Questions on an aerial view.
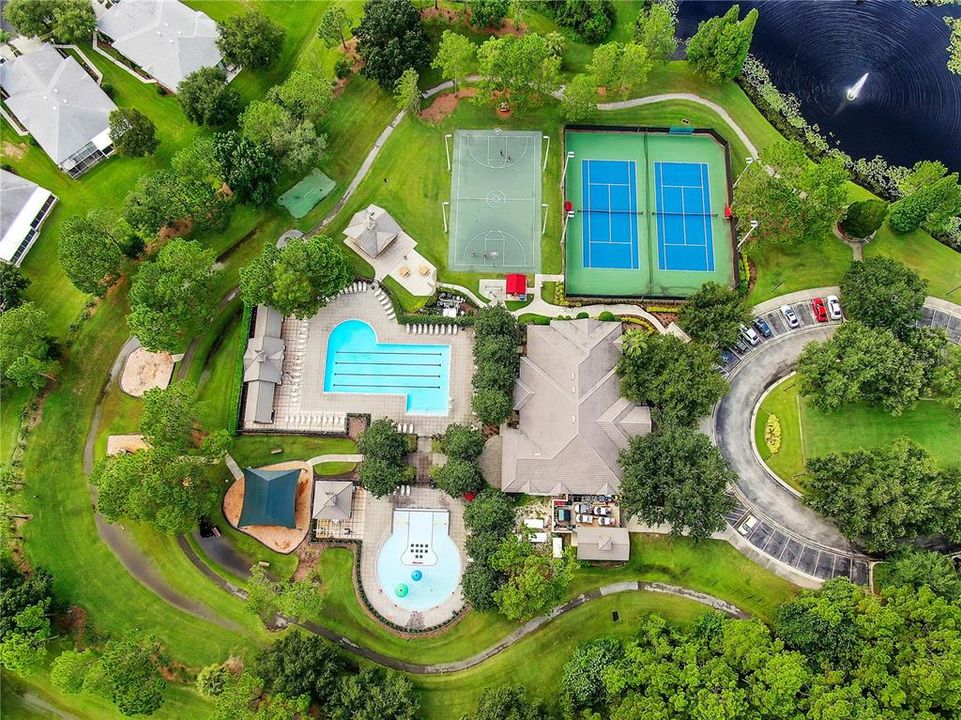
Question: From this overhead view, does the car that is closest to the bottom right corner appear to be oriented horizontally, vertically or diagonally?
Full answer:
The car that is closest to the bottom right corner is oriented diagonally.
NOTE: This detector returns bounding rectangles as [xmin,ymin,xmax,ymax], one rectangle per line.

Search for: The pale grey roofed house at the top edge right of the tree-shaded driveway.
[98,0,221,97]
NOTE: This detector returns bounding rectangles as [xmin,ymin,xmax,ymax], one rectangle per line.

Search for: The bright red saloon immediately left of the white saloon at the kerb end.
[810,298,830,322]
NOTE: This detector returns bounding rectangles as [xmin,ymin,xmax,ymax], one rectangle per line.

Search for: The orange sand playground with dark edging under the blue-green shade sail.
[222,459,313,555]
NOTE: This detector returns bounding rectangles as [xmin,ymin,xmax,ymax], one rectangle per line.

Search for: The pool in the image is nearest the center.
[322,317,452,416]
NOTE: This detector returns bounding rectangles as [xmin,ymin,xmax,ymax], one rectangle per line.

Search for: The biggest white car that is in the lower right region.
[737,512,760,536]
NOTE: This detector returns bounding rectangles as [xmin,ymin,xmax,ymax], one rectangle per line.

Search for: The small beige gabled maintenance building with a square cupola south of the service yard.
[571,528,630,560]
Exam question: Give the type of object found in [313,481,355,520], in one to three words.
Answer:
building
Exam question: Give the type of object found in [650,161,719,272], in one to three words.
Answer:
tennis court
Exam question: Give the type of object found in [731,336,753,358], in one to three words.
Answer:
car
